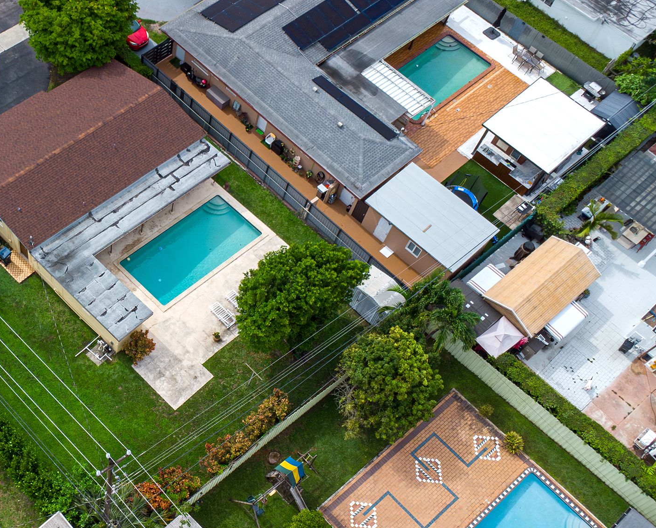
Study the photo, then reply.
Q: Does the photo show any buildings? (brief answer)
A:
Yes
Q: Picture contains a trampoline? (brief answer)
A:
Yes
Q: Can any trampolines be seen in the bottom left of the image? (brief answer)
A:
No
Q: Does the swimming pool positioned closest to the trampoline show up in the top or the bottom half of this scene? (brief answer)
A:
top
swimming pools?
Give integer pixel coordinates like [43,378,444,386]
[374,30,496,124]
[465,465,599,528]
[114,189,268,310]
